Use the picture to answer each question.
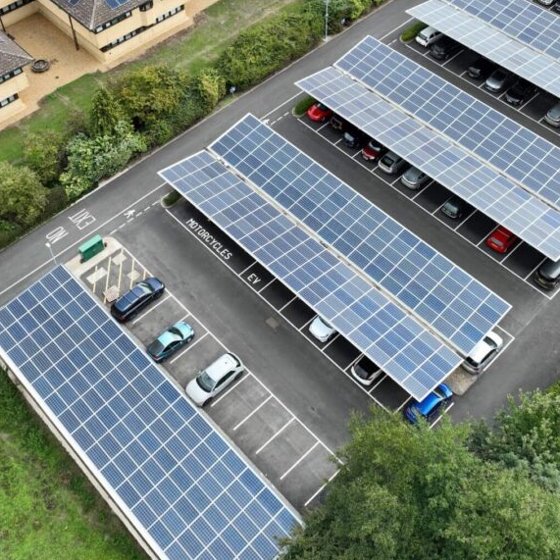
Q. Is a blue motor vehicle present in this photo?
Yes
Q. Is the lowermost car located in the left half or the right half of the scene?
right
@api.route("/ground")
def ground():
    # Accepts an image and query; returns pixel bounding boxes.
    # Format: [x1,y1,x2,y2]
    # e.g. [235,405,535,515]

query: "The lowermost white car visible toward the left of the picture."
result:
[188,350,246,404]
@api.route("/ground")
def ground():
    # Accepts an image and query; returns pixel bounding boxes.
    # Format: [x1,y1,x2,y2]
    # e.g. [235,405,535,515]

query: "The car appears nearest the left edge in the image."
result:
[107,279,163,324]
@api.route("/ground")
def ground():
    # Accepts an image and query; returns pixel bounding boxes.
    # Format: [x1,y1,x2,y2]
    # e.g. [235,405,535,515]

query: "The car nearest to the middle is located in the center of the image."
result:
[311,316,338,341]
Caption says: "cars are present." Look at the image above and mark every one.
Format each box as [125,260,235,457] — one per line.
[432,35,464,59]
[413,25,445,49]
[107,279,163,324]
[534,258,560,288]
[329,114,353,134]
[188,350,246,404]
[507,77,539,102]
[471,56,501,77]
[344,126,371,149]
[487,225,520,254]
[361,139,391,163]
[311,316,338,341]
[145,315,200,364]
[464,329,505,370]
[401,166,431,190]
[380,152,410,177]
[307,102,335,124]
[486,66,520,92]
[547,103,560,127]
[403,382,454,431]
[443,194,473,220]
